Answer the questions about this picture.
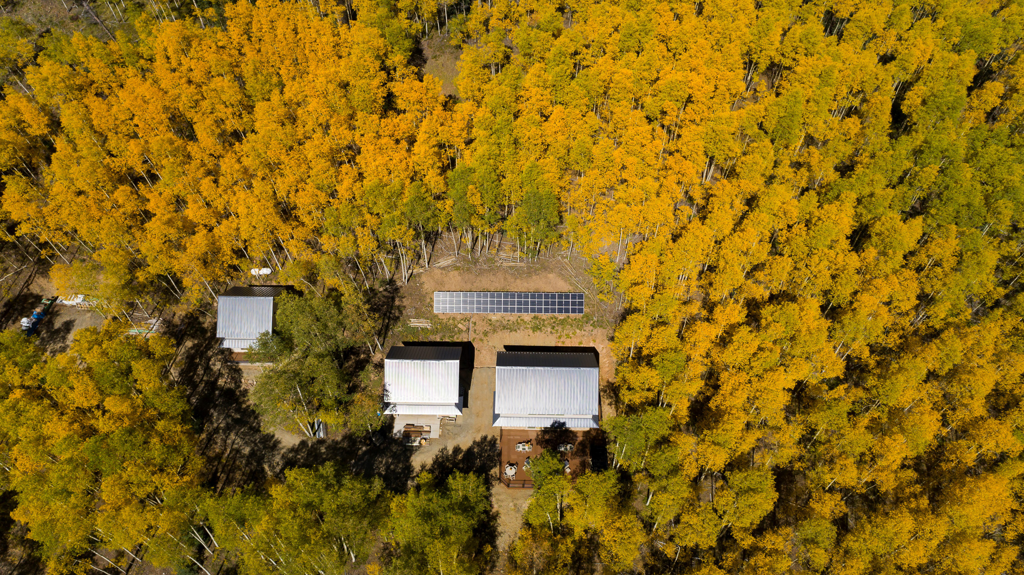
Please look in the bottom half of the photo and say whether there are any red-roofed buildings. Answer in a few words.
No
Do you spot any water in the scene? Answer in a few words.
No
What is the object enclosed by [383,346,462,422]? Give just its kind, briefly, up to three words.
building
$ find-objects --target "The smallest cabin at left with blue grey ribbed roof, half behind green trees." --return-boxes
[215,286,283,351]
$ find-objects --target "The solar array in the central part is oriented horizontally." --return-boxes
[433,291,585,319]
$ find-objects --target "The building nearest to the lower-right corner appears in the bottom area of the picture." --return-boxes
[494,351,599,430]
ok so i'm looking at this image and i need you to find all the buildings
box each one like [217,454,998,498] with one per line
[494,351,599,430]
[215,286,283,351]
[383,346,462,422]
